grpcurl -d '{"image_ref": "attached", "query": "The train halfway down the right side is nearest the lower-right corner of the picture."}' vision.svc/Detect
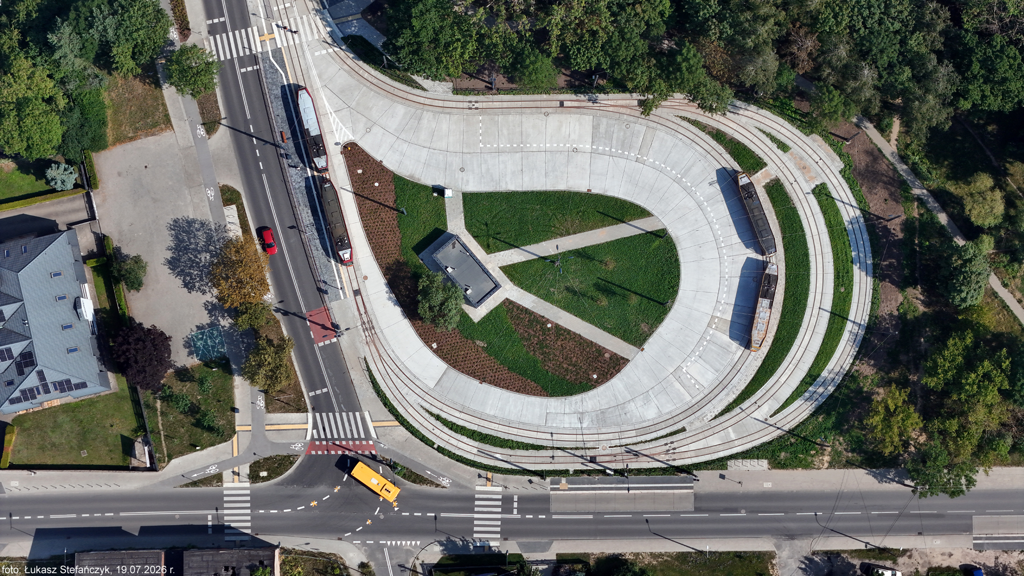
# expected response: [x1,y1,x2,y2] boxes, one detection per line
[747,262,777,350]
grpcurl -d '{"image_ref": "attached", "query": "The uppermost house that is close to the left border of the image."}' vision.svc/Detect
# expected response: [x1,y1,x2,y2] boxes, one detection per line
[0,228,112,414]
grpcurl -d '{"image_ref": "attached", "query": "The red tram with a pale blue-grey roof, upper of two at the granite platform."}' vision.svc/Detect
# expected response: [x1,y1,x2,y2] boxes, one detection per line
[299,89,329,176]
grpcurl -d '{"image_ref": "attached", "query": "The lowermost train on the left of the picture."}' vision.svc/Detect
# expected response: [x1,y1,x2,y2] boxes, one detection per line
[323,180,355,267]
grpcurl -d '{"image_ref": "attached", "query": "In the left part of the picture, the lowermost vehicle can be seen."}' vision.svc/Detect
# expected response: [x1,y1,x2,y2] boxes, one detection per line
[353,462,402,503]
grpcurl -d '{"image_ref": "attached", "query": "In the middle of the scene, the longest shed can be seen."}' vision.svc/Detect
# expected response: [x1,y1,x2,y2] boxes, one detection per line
[433,235,501,307]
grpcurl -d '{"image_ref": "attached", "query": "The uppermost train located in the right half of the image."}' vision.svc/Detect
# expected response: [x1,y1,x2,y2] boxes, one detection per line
[736,174,776,259]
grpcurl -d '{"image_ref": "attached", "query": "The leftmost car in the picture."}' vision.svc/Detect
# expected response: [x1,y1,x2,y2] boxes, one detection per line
[260,229,276,254]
